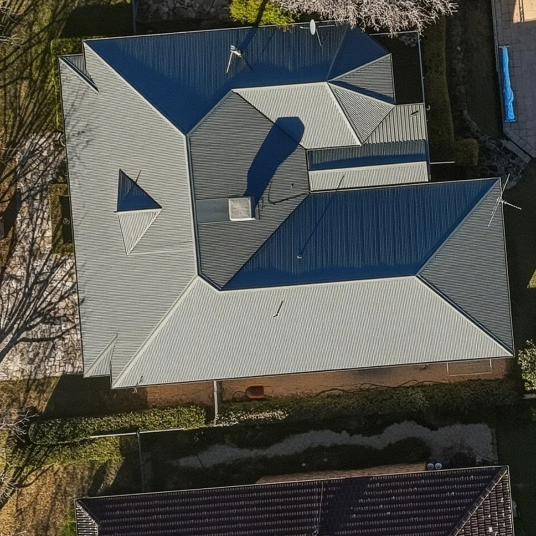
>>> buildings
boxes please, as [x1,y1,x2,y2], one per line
[54,21,516,392]
[72,459,516,536]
